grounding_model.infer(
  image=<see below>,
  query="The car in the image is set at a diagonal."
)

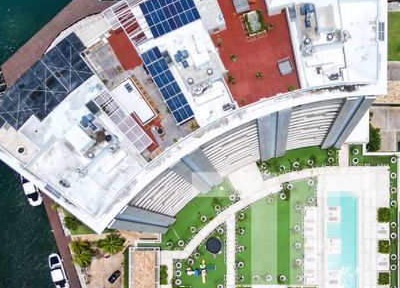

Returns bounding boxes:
[105,268,122,284]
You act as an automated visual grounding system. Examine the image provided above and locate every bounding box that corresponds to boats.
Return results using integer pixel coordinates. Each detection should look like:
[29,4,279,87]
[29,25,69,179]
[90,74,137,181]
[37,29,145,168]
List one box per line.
[24,176,44,209]
[49,253,66,288]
